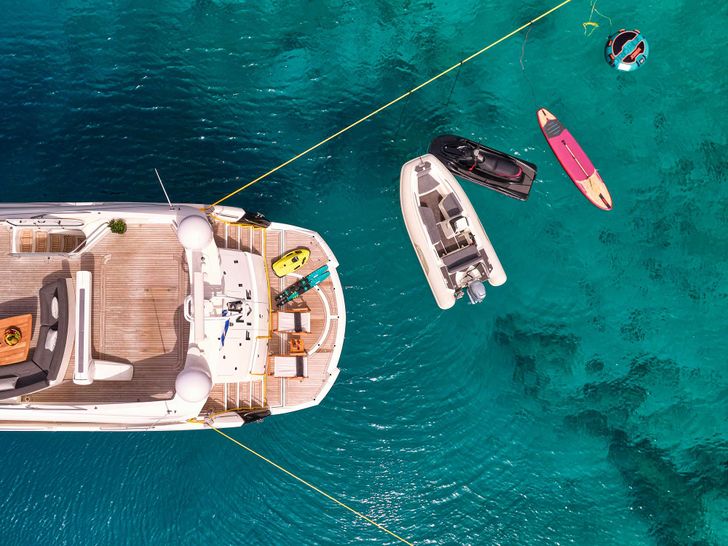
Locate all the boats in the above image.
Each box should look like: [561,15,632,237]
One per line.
[400,153,506,306]
[0,169,346,432]
[427,134,537,203]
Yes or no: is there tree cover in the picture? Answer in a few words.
No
